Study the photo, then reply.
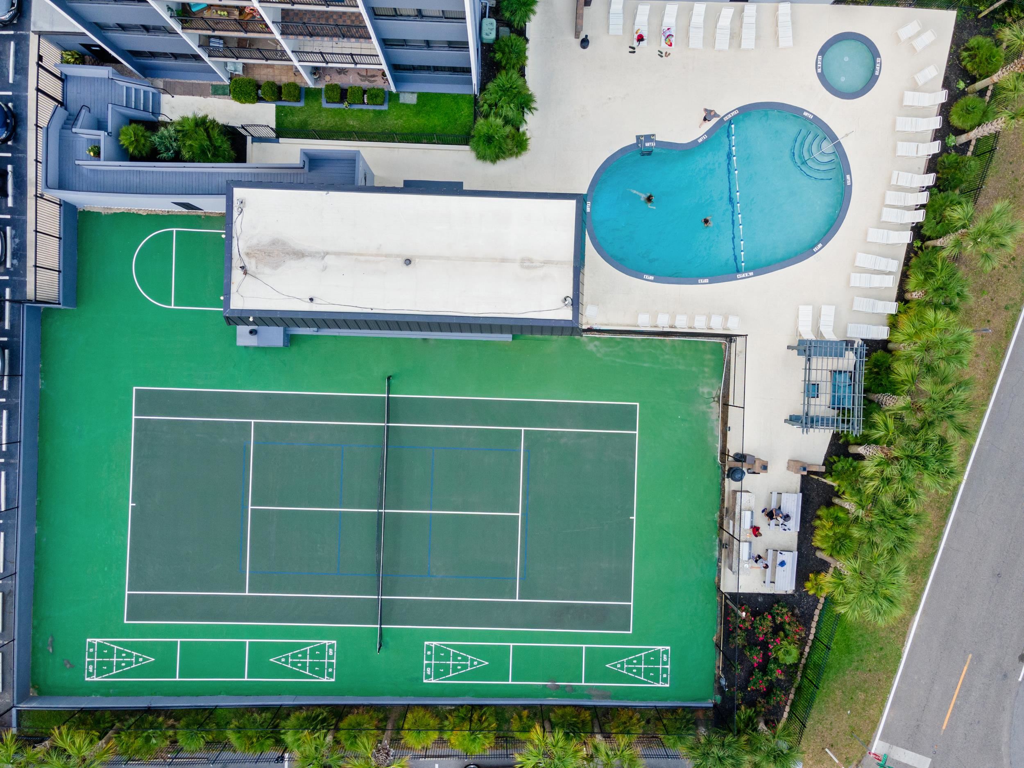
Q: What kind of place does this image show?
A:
sports ground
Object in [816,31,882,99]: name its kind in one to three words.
swimming pool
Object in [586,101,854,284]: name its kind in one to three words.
swimming pool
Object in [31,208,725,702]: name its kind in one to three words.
tennis court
